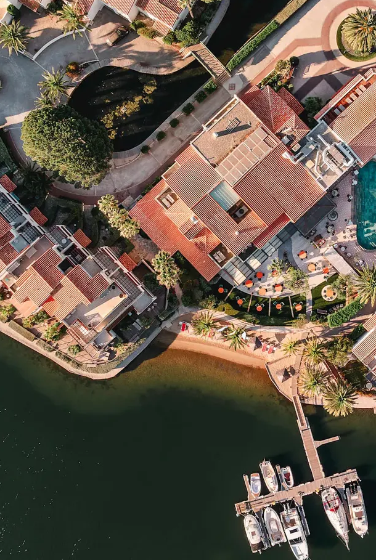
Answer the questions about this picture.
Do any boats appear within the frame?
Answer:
Yes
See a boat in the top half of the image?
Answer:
No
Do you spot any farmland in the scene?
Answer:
No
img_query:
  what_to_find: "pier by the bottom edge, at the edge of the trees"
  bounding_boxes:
[233,395,361,548]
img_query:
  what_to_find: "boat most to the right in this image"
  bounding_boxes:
[346,482,367,534]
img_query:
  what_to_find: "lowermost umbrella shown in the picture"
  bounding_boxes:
[276,367,292,384]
